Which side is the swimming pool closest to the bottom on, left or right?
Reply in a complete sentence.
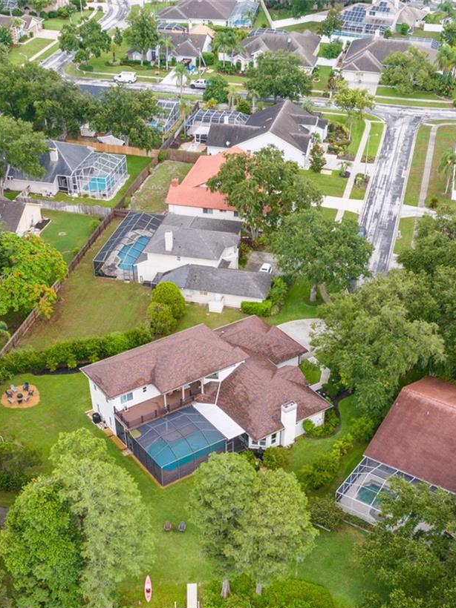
The swimming pool closest to the bottom is on the right side of the image.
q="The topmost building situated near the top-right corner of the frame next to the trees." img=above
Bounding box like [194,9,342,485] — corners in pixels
[340,0,427,36]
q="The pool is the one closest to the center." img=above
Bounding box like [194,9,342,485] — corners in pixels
[93,231,152,282]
